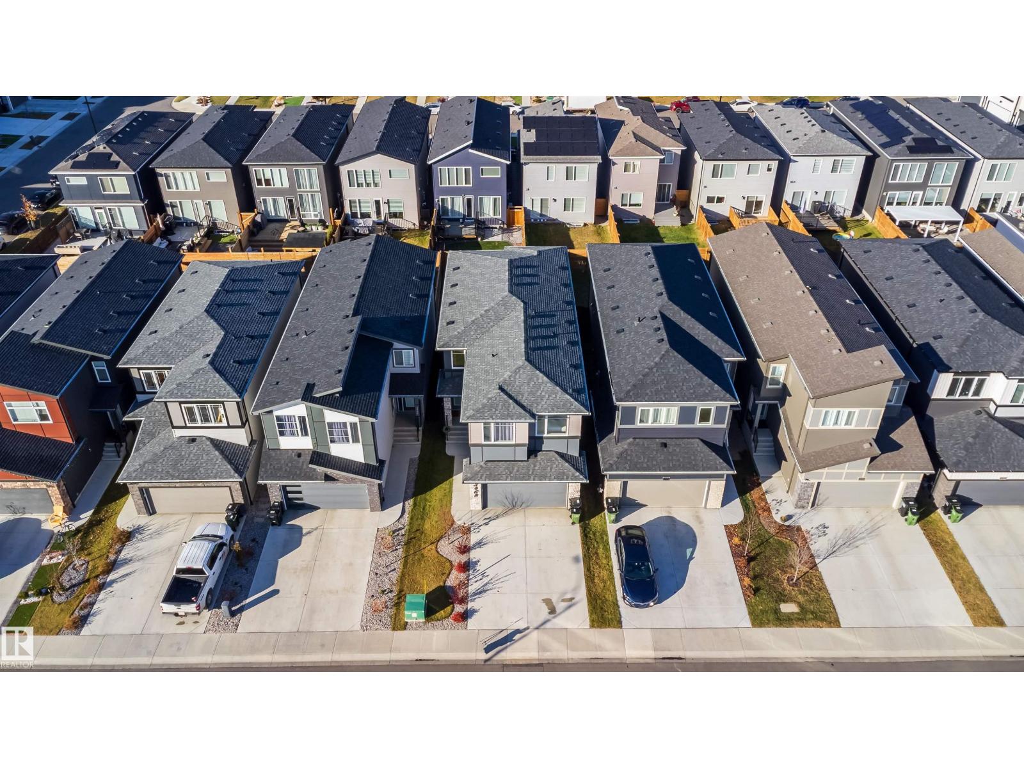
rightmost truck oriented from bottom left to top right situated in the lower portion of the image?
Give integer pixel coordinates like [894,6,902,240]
[157,526,237,618]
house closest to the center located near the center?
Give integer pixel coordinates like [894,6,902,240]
[435,247,591,509]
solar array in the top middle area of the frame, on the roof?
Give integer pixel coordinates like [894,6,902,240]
[523,117,603,154]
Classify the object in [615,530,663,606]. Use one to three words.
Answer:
car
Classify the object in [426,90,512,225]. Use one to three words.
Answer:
house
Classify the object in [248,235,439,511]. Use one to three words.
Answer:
house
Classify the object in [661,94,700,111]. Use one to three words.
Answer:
car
